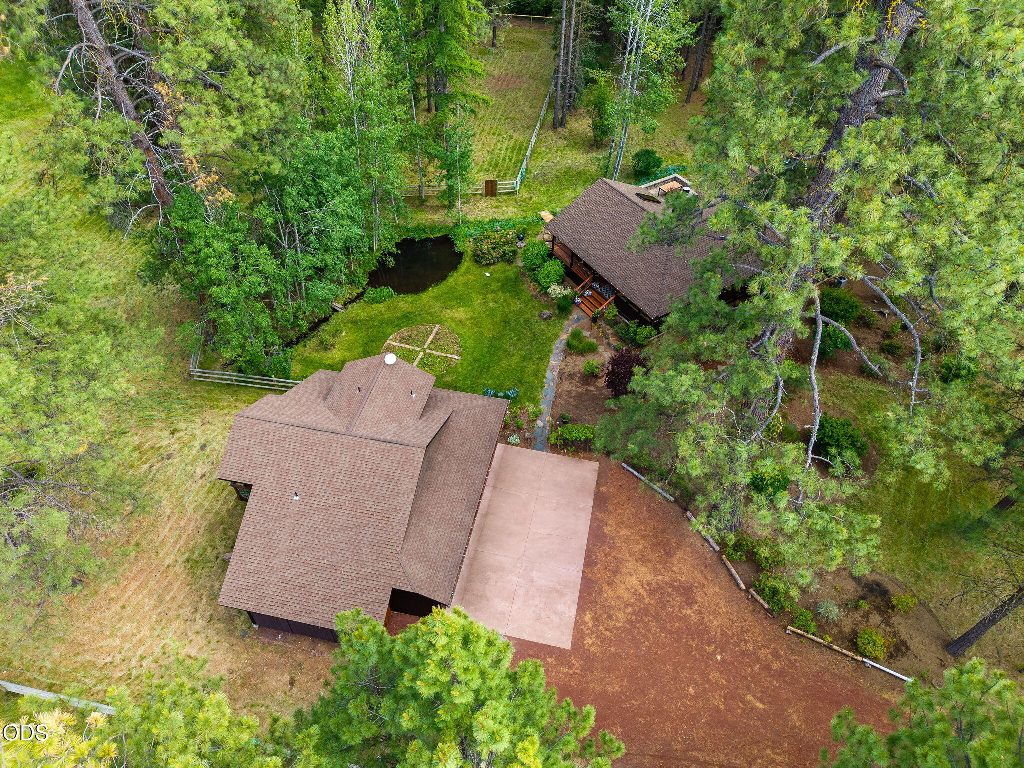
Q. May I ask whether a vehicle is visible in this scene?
No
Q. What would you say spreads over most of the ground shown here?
trees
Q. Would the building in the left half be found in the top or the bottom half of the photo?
bottom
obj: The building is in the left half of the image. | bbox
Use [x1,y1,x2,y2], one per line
[217,354,512,649]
